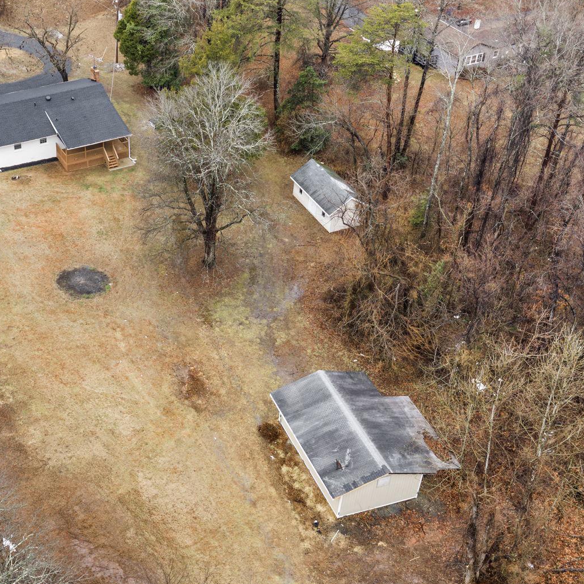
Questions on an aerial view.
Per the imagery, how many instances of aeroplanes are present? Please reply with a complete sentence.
The count of aeroplanes is 0.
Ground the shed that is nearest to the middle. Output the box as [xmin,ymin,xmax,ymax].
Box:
[290,160,370,232]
